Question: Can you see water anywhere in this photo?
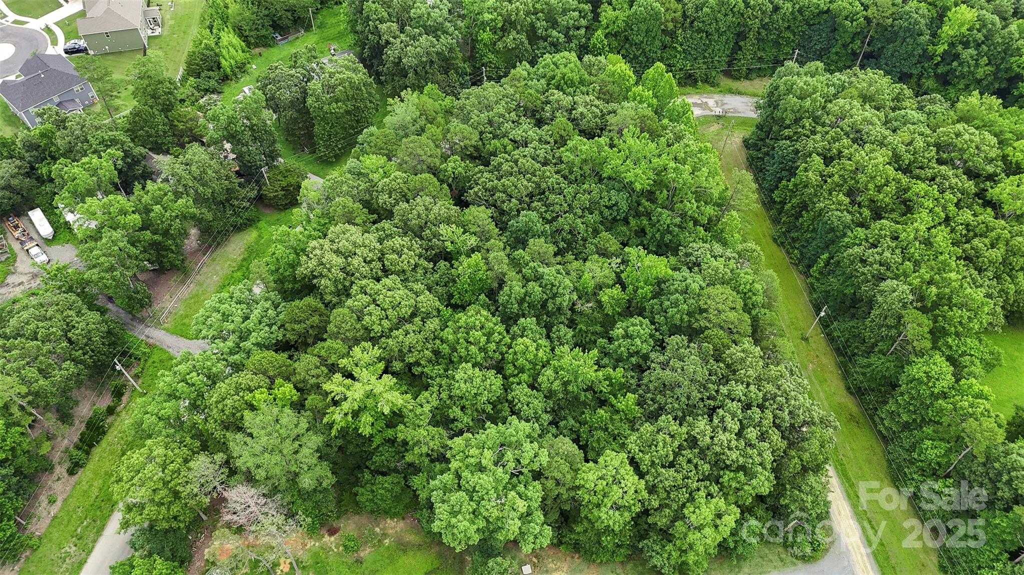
No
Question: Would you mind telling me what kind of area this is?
forest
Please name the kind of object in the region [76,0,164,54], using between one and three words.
house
